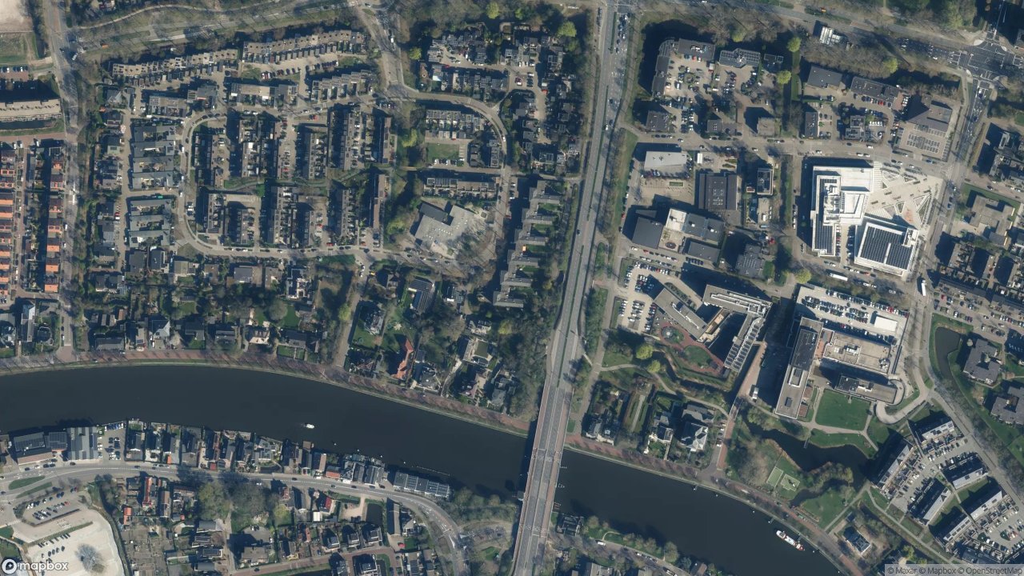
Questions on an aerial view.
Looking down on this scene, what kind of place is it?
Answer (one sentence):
The picture captures a residential area.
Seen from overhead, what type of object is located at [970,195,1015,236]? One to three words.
building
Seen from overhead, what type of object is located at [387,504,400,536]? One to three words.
barn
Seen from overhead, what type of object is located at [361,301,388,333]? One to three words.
house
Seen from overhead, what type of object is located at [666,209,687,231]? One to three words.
building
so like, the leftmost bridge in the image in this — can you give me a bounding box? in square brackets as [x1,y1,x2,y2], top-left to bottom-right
[507,286,586,576]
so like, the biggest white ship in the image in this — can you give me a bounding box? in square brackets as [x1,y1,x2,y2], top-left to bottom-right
[776,530,804,550]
